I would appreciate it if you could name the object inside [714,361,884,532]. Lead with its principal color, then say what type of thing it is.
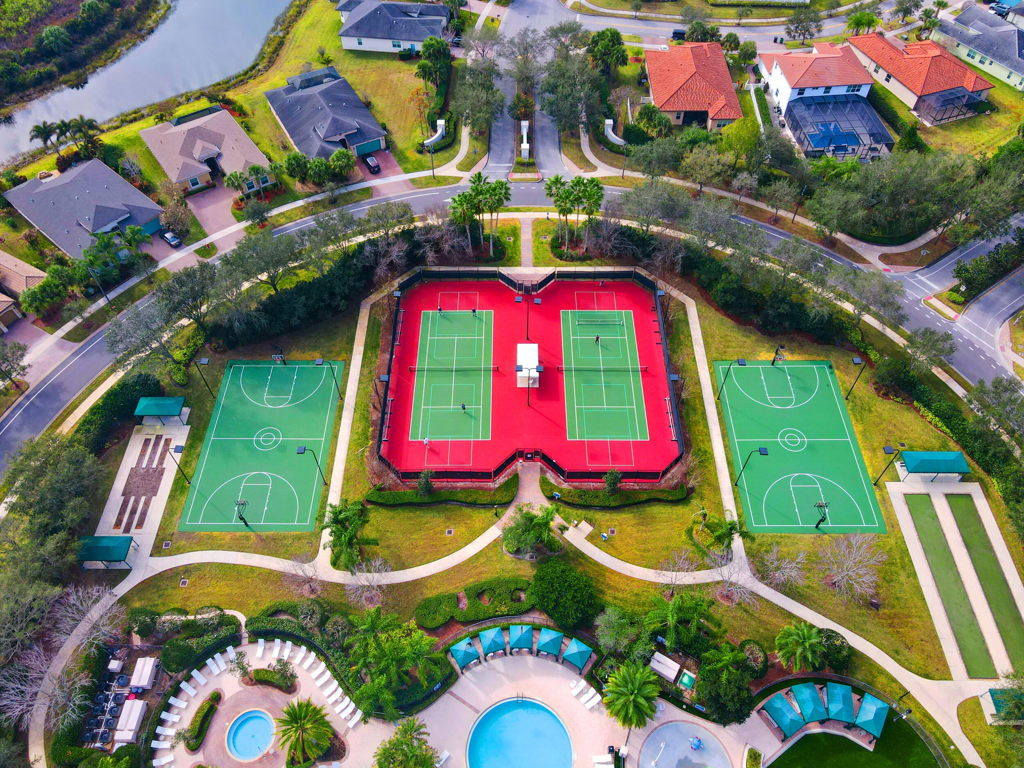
green basketball court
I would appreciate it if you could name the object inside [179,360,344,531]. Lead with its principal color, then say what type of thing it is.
green basketball court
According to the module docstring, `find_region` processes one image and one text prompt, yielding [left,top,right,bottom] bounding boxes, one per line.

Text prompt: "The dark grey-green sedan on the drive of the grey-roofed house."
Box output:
[158,226,182,246]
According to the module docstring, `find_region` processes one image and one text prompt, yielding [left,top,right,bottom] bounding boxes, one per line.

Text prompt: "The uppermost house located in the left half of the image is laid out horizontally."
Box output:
[336,0,454,53]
